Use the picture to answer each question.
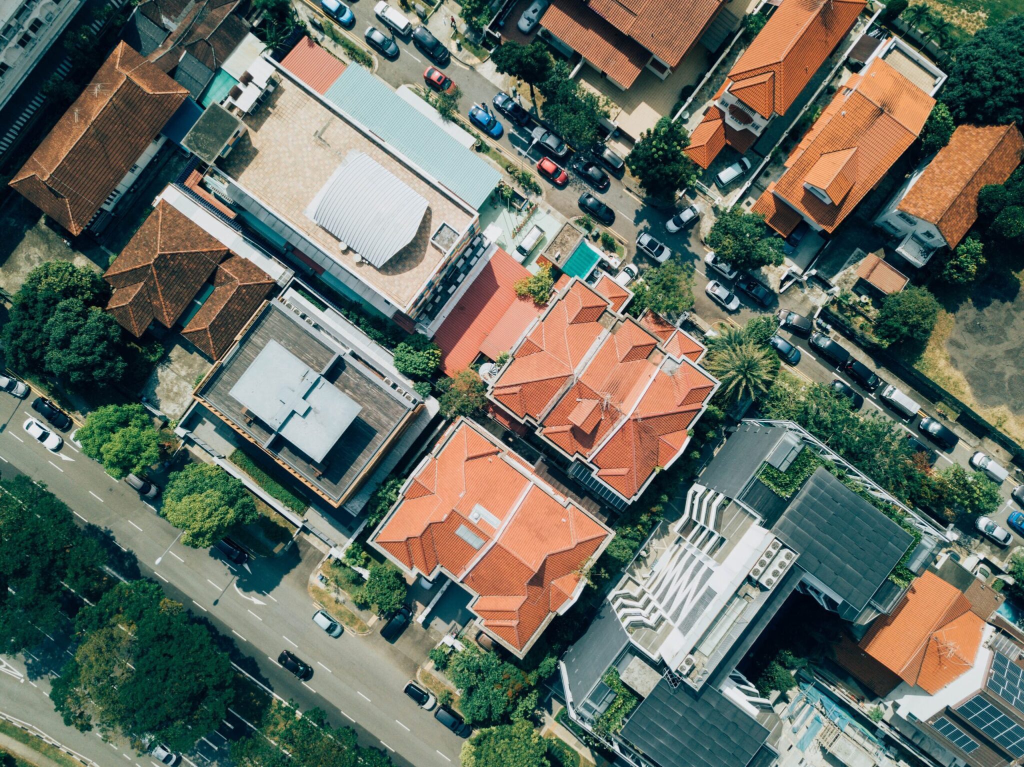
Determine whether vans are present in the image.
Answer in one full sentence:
Yes, the image includes a van.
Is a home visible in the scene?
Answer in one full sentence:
Yes, the photo shows a home.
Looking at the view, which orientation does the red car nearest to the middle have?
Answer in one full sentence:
From this overhead view, the red car nearest to the middle appears to run on a diagonal.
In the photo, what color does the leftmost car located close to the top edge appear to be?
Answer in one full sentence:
The color of the leftmost car located close to the top edge is blue.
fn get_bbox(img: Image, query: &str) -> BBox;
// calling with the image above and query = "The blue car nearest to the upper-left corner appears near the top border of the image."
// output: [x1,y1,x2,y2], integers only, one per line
[318,0,358,28]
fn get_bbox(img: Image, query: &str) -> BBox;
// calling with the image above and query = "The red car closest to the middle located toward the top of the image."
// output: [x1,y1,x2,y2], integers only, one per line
[533,153,572,188]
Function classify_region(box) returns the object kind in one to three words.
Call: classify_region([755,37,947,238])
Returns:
house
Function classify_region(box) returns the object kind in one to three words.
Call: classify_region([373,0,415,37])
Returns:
van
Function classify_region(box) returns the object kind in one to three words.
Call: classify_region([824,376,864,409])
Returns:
car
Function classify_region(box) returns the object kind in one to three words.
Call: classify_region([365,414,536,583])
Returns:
house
